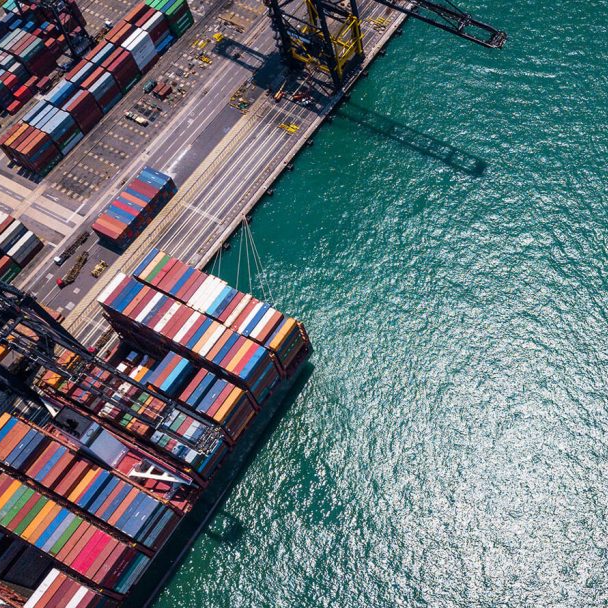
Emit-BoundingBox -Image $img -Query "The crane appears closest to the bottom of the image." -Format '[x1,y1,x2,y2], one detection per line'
[0,283,231,465]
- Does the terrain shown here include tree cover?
No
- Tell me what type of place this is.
port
